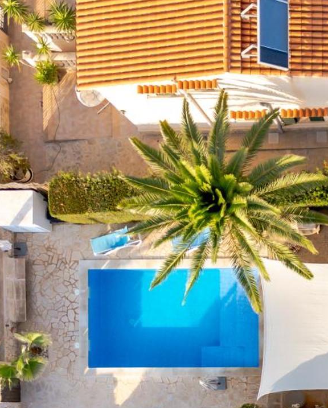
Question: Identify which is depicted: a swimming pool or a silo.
swimming pool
